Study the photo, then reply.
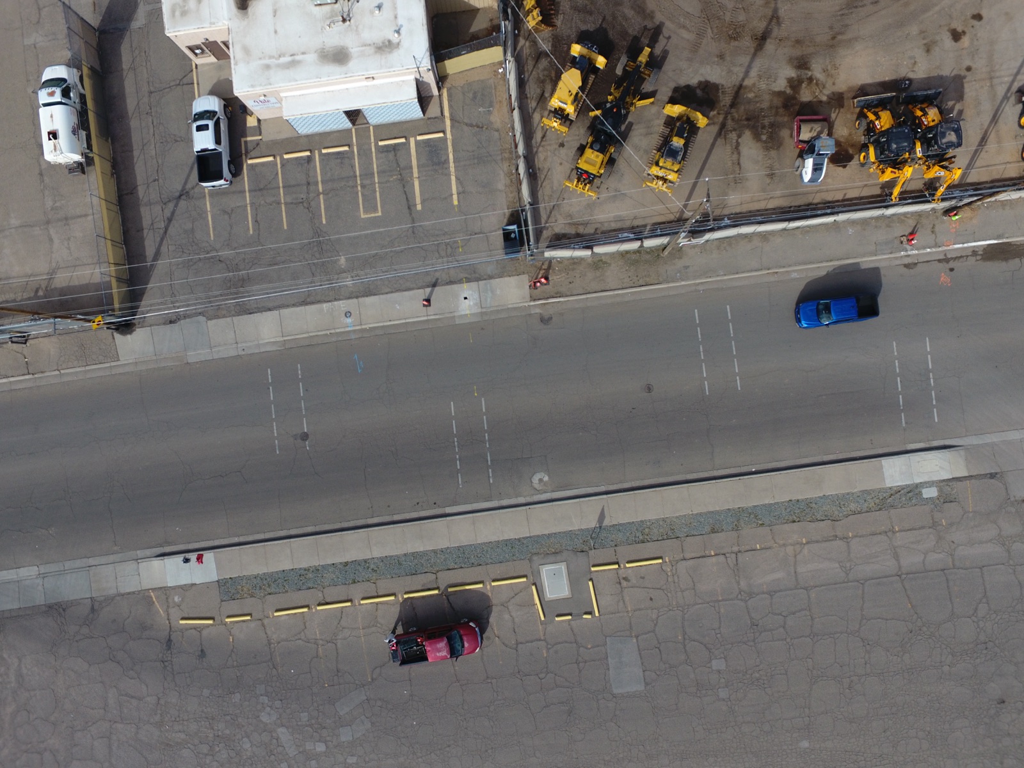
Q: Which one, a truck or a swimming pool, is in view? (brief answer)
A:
truck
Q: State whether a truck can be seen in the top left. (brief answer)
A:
Yes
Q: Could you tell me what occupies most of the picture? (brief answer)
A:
paved ground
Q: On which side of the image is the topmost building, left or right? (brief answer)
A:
left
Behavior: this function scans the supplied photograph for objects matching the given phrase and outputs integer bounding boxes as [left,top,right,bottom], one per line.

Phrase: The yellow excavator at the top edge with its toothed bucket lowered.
[524,0,556,32]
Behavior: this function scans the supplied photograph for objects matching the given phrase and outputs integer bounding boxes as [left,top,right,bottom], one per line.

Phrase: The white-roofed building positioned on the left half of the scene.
[159,0,440,134]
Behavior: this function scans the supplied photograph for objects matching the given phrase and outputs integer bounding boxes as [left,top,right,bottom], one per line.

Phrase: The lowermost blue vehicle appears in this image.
[792,288,881,330]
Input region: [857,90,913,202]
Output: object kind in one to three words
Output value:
work vehicle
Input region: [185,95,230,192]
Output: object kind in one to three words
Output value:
truck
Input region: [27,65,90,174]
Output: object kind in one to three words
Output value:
truck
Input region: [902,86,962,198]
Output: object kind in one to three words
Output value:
work vehicle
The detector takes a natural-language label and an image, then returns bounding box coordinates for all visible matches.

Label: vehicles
[646,104,713,193]
[27,65,90,174]
[544,45,608,132]
[564,41,662,196]
[388,622,482,666]
[857,90,913,202]
[185,95,230,192]
[902,86,962,198]
[524,0,556,32]
[792,288,881,330]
